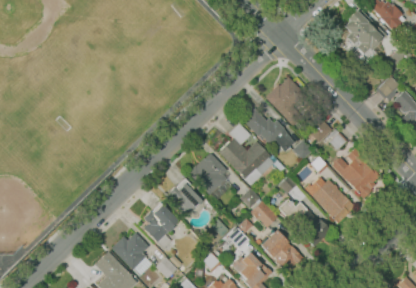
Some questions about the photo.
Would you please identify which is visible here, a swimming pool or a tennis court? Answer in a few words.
swimming pool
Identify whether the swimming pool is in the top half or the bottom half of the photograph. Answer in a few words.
bottom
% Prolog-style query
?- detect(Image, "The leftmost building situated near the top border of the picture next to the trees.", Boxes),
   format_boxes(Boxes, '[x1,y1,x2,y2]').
[346,10,386,52]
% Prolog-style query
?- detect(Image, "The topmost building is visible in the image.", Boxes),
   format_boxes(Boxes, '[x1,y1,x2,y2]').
[373,0,406,28]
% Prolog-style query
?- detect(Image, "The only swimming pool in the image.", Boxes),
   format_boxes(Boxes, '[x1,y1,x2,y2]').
[185,198,218,234]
